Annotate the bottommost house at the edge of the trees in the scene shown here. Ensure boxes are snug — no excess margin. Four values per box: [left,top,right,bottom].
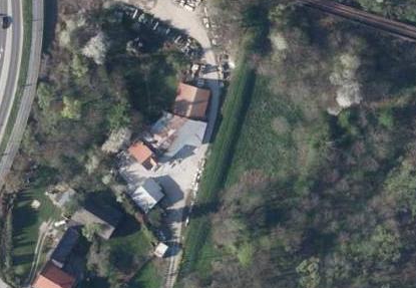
[32,260,77,288]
